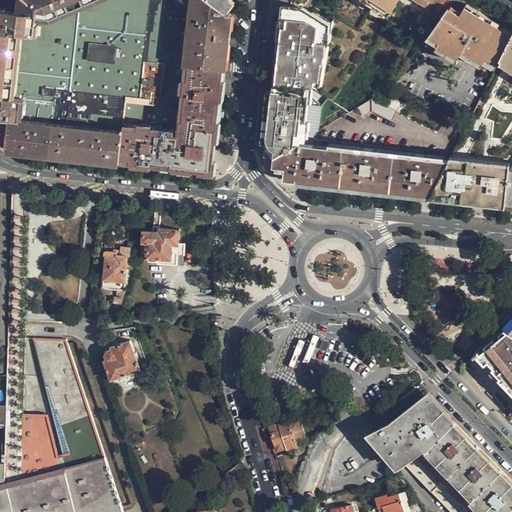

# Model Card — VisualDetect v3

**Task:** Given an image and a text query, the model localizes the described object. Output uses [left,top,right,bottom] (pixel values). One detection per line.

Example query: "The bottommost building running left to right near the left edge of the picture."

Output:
[0,456,126,512]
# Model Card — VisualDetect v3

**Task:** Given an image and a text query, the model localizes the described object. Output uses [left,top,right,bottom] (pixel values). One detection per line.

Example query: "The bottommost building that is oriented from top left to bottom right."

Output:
[409,462,456,512]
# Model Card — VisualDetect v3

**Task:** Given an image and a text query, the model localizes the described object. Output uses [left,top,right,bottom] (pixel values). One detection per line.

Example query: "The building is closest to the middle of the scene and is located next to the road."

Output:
[140,212,186,265]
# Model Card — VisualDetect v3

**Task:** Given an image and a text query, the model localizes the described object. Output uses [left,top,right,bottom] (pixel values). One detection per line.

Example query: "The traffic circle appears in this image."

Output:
[288,224,381,314]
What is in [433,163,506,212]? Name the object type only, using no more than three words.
building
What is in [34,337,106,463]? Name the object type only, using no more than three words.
building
